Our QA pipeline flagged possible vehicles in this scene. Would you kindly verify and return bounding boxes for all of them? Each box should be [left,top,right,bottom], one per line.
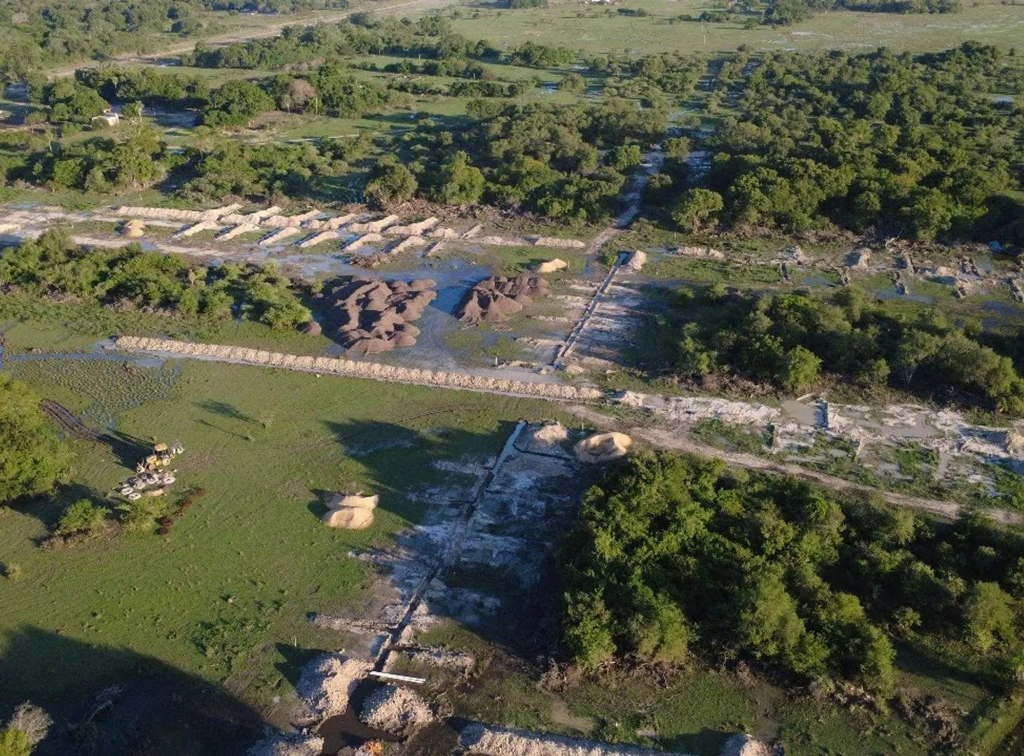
[135,444,184,474]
